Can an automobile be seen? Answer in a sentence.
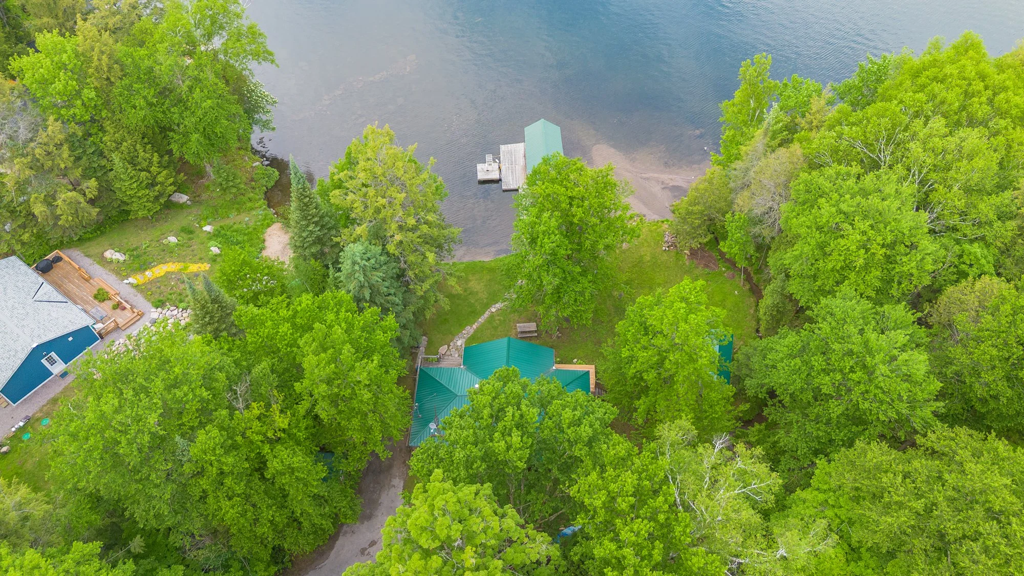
No, the photo shows no automobile.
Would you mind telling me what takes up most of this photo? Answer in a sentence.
The largest share of the image is taken up by trees.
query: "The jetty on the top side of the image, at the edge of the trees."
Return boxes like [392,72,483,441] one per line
[498,144,525,195]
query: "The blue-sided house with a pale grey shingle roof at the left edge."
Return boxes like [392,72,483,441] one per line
[0,255,100,405]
